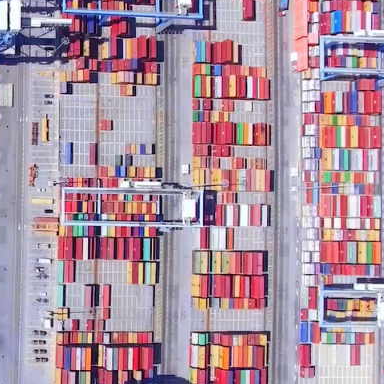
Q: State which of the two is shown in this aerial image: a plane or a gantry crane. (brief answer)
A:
gantry crane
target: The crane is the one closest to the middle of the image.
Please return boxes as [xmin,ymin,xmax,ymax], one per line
[60,181,206,235]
